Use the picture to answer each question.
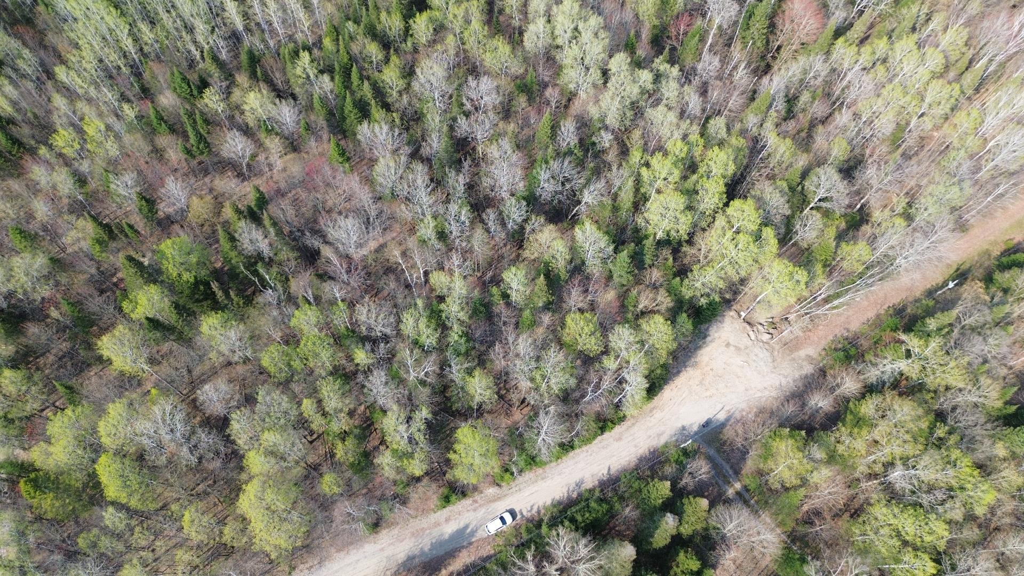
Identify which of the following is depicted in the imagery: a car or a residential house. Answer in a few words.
car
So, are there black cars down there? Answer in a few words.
No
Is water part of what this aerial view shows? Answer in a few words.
No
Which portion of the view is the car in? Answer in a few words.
bottom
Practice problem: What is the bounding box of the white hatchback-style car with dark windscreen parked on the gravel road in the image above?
[485,512,513,536]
